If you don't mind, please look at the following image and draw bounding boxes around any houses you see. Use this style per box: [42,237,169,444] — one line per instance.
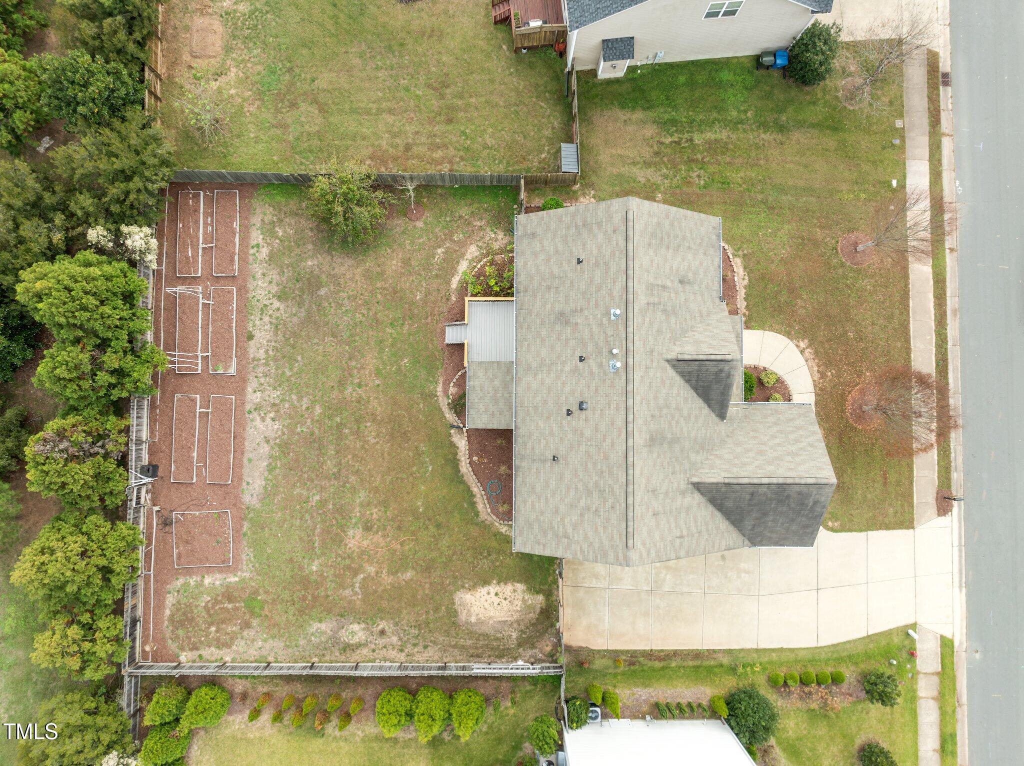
[561,711,764,766]
[563,0,829,78]
[465,196,836,568]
